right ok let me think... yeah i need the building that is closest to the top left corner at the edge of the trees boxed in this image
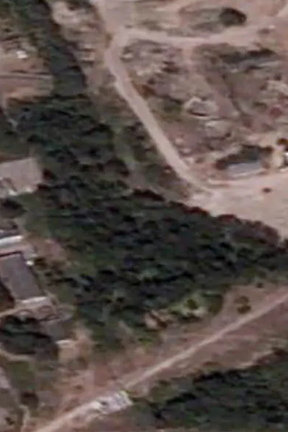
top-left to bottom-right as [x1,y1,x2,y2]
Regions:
[0,157,41,199]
